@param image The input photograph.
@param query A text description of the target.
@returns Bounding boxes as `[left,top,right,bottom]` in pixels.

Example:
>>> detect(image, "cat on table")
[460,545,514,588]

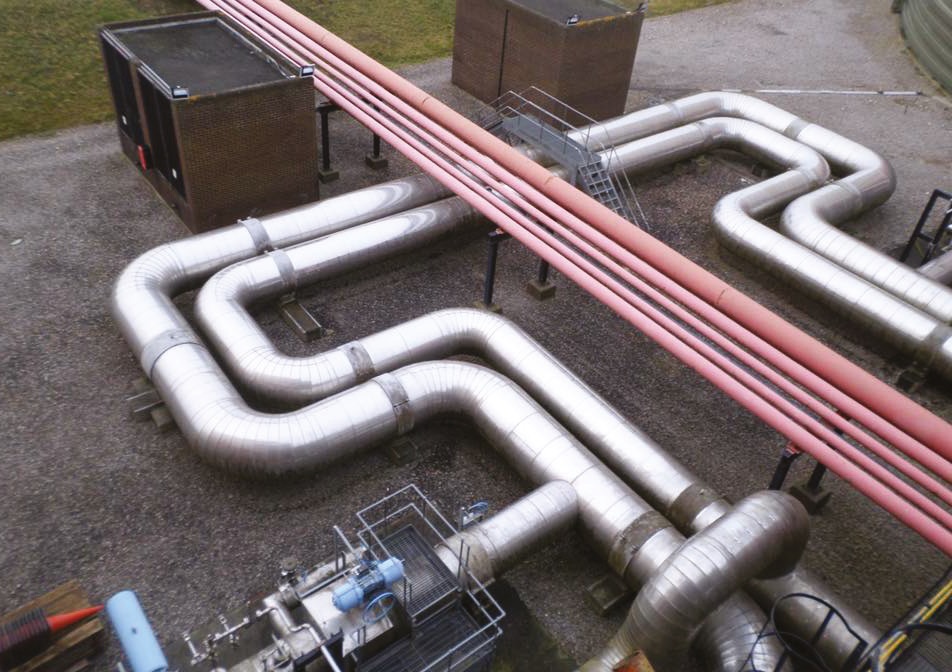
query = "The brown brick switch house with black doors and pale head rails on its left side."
[98,9,316,232]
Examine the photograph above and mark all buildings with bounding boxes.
[452,0,647,132]
[98,9,316,232]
